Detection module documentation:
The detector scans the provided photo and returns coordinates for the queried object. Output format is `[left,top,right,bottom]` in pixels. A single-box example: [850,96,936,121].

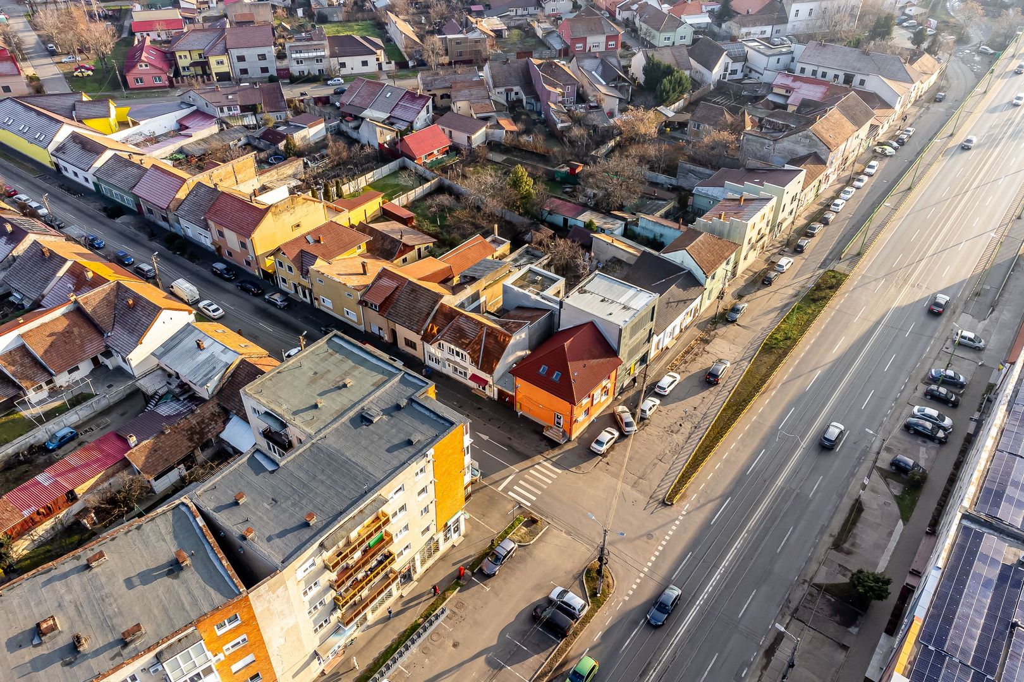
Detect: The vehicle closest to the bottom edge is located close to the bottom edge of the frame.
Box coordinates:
[562,649,600,682]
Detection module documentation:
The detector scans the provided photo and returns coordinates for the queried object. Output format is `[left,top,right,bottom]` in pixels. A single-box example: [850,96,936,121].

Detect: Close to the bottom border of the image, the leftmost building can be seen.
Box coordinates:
[0,499,275,682]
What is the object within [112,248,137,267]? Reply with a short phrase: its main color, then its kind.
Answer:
blue car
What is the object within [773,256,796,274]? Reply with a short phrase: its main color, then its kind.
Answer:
white car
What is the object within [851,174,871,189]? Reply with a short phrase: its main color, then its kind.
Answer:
white car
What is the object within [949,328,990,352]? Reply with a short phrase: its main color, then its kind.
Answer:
gray car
